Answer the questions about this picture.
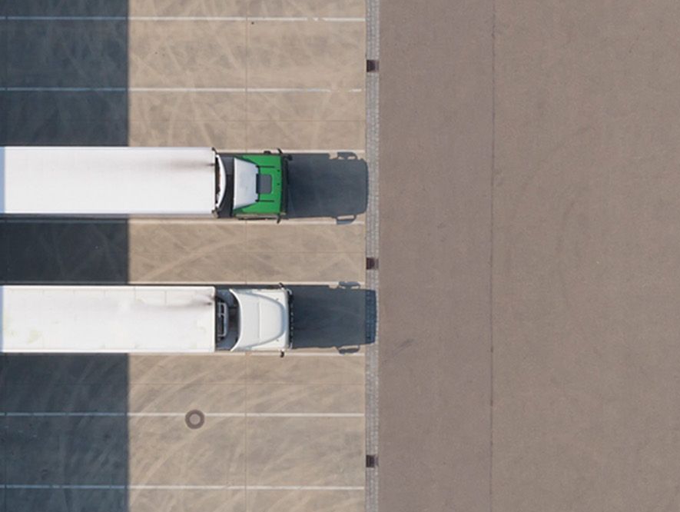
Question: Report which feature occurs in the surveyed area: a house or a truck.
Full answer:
The one in the frame is a truck.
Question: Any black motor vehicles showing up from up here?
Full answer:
No, the photo shows no black motor vehicle.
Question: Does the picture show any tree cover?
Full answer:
No, there is no tree cover in the image.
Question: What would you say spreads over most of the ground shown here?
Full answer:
The bulk of the photo consists of paved ground.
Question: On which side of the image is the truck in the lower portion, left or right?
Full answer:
The truck in the lower portion appears in the left half of the scene.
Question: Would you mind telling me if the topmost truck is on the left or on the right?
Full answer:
The topmost truck appears in the left half of the scene.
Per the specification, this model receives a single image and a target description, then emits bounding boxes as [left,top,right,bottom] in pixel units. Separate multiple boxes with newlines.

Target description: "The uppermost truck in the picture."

[0,145,293,222]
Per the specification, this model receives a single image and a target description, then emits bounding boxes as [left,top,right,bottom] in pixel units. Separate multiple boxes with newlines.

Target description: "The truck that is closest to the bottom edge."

[0,281,293,358]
